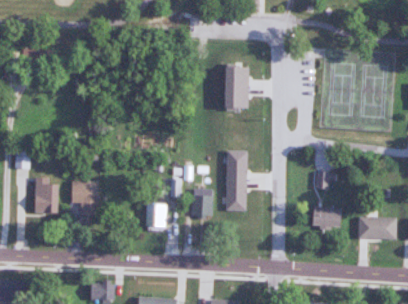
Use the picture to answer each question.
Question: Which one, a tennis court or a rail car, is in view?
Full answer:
The image shows a tennis court.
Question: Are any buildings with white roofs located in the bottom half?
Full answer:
Yes, you'll find a building with a white roof in the bottom half.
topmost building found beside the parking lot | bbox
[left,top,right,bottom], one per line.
[225,62,250,114]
